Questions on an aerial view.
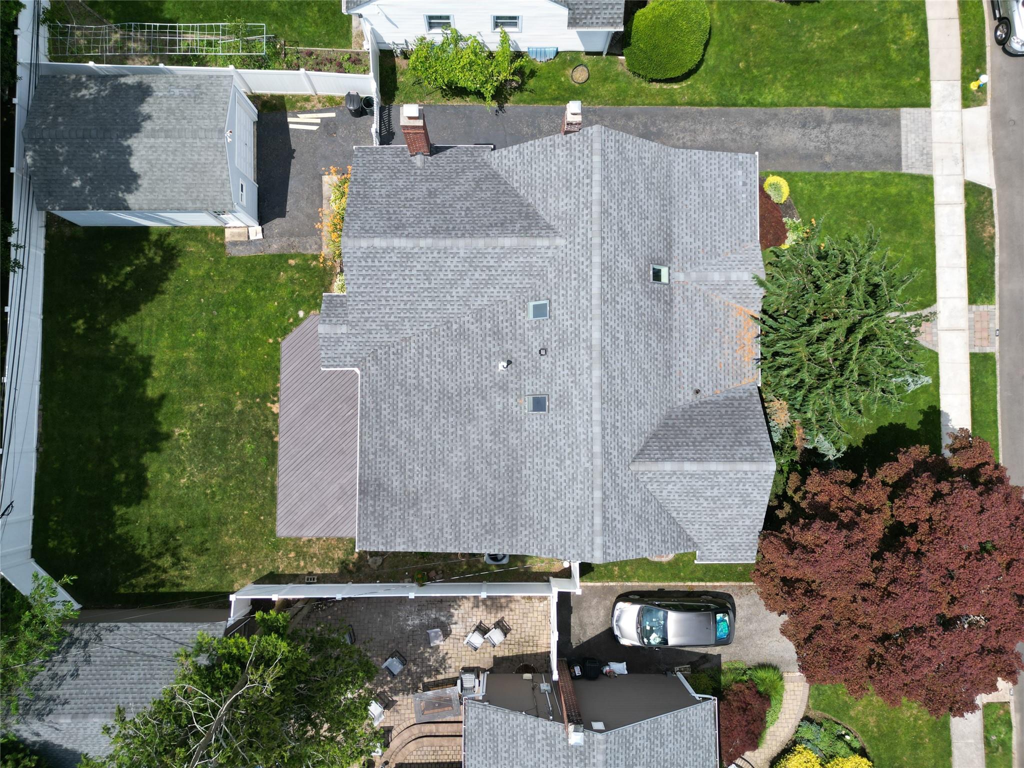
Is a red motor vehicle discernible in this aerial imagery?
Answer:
No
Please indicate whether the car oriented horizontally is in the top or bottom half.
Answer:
bottom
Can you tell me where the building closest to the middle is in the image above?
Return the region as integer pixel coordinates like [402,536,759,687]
[320,99,776,565]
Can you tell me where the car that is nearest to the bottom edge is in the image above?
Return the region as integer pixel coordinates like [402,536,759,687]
[610,594,738,654]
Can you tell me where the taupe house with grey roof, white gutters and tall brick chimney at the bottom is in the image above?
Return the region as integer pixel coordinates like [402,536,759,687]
[461,659,724,768]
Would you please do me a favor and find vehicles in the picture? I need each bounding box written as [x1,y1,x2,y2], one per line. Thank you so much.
[610,594,738,654]
[990,0,1024,62]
